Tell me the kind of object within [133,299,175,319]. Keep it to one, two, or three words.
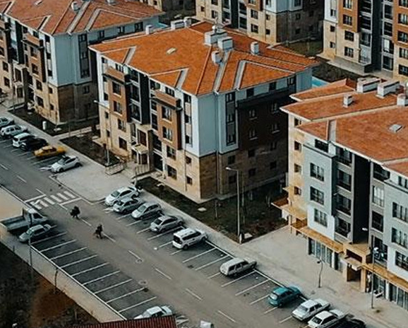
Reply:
car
